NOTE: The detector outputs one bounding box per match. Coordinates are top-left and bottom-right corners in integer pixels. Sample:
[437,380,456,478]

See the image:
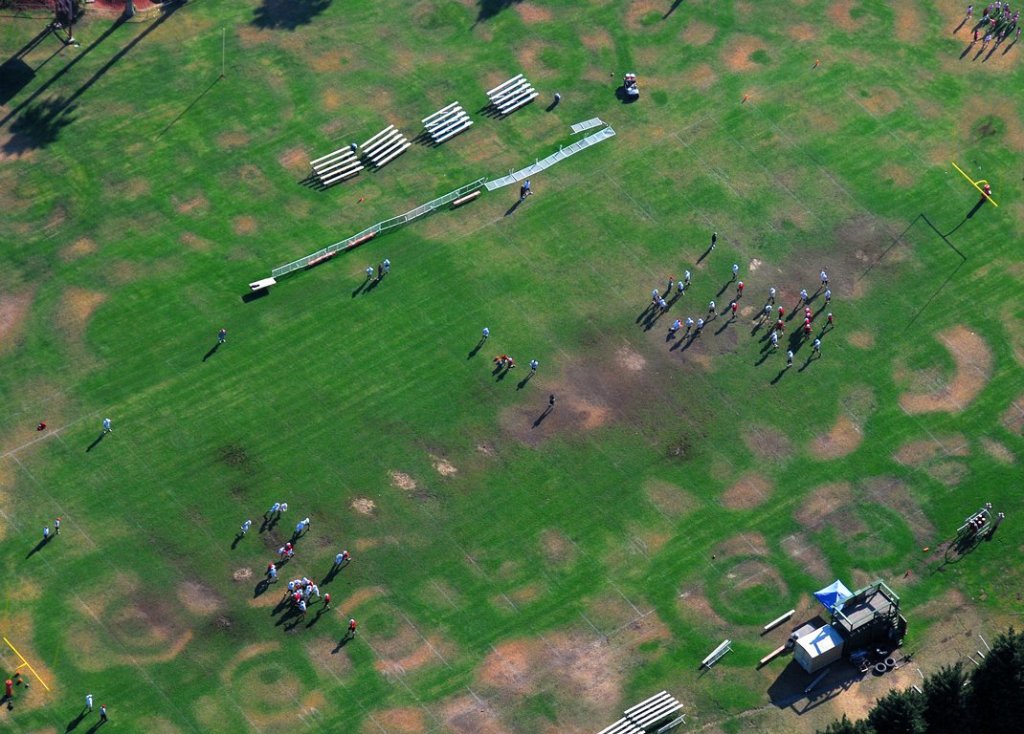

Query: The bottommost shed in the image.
[794,624,844,674]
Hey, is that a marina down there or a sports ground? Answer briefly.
sports ground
